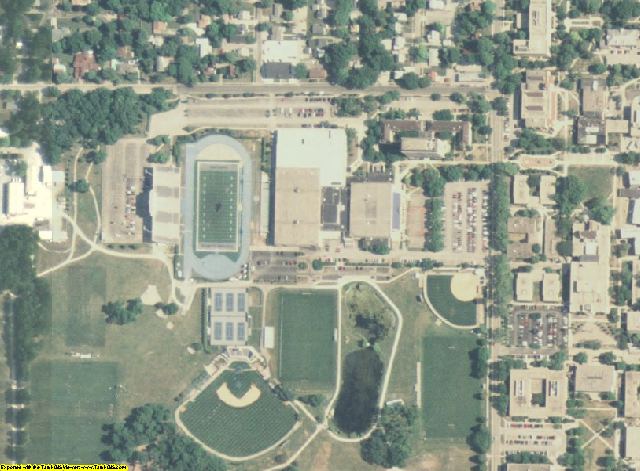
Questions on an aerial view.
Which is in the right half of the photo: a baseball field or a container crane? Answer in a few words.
baseball field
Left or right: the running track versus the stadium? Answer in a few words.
on the left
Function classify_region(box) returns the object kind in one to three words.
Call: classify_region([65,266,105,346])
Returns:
sports field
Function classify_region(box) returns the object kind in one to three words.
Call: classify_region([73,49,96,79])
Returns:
house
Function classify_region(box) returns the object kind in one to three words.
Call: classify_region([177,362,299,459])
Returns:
baseball field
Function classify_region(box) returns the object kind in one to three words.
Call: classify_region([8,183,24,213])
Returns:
building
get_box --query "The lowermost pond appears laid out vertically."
[334,348,384,434]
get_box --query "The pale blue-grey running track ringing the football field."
[186,134,251,282]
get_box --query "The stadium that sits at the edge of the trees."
[349,171,400,237]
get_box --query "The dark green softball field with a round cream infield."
[426,274,485,325]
